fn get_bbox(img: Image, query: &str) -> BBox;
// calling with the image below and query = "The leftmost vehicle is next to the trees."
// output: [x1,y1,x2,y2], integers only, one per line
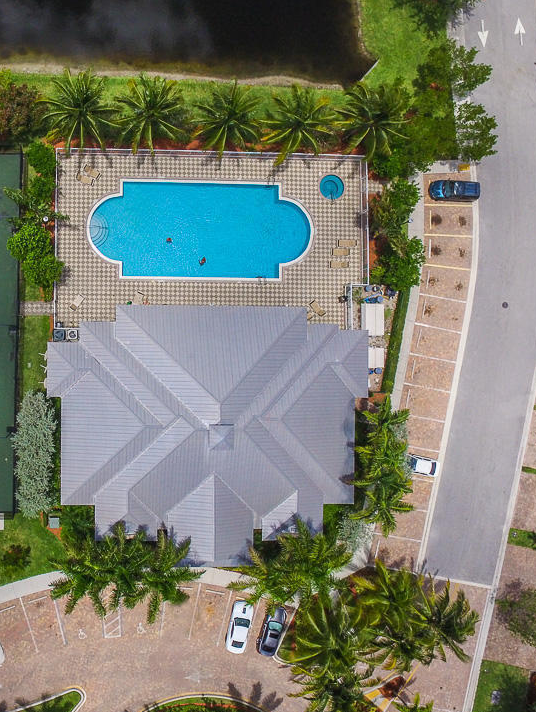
[226,598,254,655]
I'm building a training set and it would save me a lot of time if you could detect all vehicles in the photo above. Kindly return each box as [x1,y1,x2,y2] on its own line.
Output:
[426,177,482,203]
[226,598,254,655]
[256,604,286,658]
[390,449,441,476]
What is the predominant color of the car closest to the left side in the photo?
white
